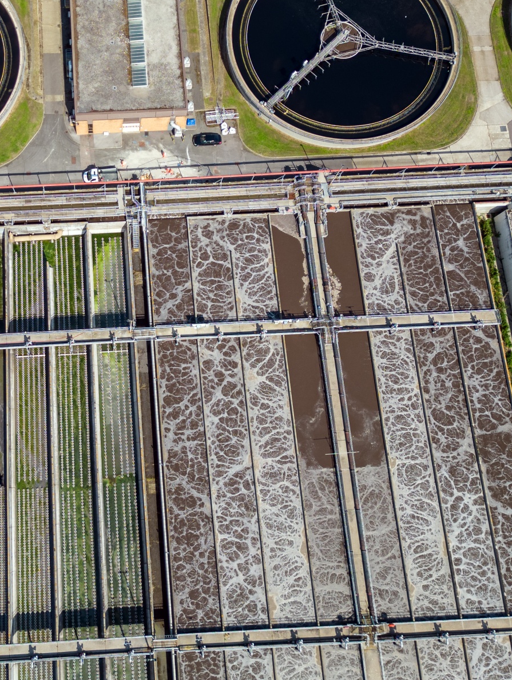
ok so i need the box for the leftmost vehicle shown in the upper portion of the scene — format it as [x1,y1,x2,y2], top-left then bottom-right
[83,167,120,183]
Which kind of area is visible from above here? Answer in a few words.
industrial area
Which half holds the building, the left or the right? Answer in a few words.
left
